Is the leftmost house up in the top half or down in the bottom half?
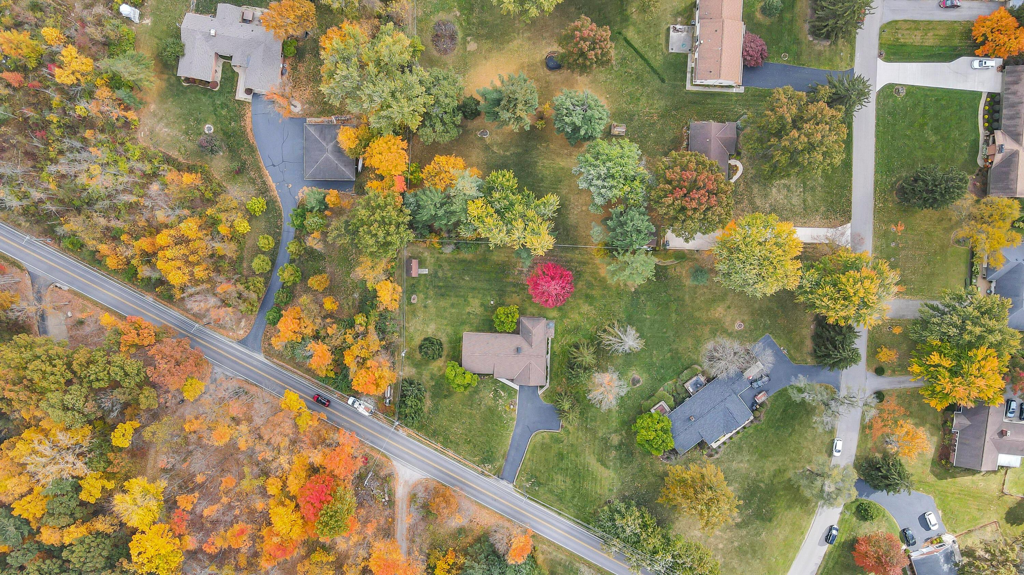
top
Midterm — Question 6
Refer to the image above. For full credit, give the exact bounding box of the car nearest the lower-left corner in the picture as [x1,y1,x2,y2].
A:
[313,394,331,408]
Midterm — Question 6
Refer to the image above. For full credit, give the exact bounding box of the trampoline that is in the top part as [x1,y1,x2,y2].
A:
[545,53,562,71]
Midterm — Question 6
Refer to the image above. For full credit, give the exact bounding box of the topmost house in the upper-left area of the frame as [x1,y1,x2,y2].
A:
[177,3,283,93]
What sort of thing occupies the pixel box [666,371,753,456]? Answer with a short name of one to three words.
house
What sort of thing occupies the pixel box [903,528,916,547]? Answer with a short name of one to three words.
vehicle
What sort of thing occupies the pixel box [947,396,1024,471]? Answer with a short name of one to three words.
house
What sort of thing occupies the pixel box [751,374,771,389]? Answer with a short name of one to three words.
vehicle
